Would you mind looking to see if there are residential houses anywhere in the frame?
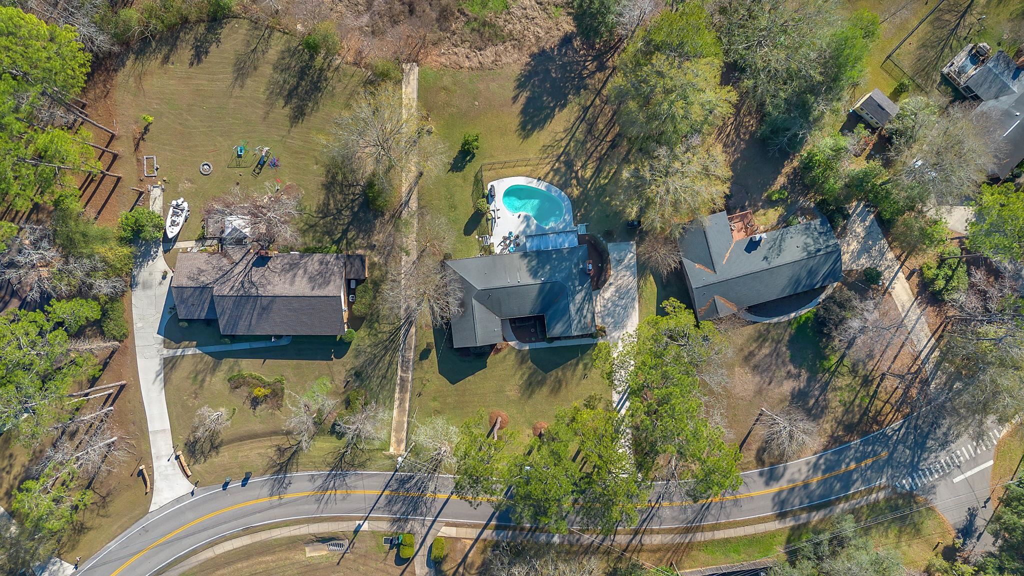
Yes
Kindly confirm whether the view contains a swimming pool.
Yes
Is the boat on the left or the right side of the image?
left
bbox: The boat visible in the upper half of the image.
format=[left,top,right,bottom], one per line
[165,197,188,238]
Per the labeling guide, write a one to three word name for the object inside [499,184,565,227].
swimming pool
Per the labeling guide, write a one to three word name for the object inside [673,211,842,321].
house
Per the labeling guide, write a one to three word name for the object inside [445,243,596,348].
house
